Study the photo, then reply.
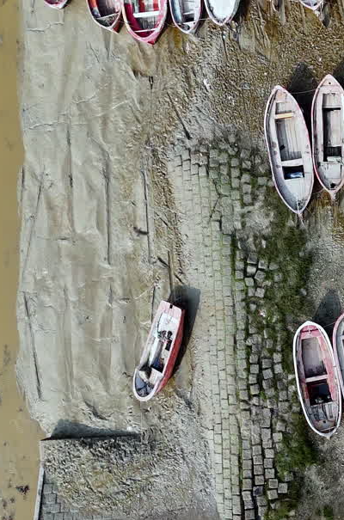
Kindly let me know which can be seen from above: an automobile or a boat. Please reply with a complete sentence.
This aerial view contains a boat.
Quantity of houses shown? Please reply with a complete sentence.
The photo contains no houses.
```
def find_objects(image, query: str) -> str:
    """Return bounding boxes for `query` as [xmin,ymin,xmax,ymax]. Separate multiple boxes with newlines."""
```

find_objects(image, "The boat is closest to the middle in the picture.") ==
[132,297,180,399]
